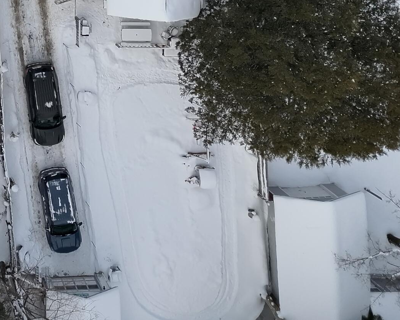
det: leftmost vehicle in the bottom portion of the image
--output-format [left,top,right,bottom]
[37,165,83,252]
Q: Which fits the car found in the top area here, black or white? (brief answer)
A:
black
